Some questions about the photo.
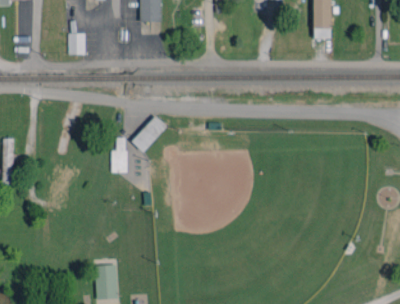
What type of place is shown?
sports ground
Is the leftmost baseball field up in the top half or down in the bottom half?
bottom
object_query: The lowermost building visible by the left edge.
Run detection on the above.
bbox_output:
[0,138,14,184]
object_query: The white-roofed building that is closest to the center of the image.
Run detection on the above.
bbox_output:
[132,116,166,152]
